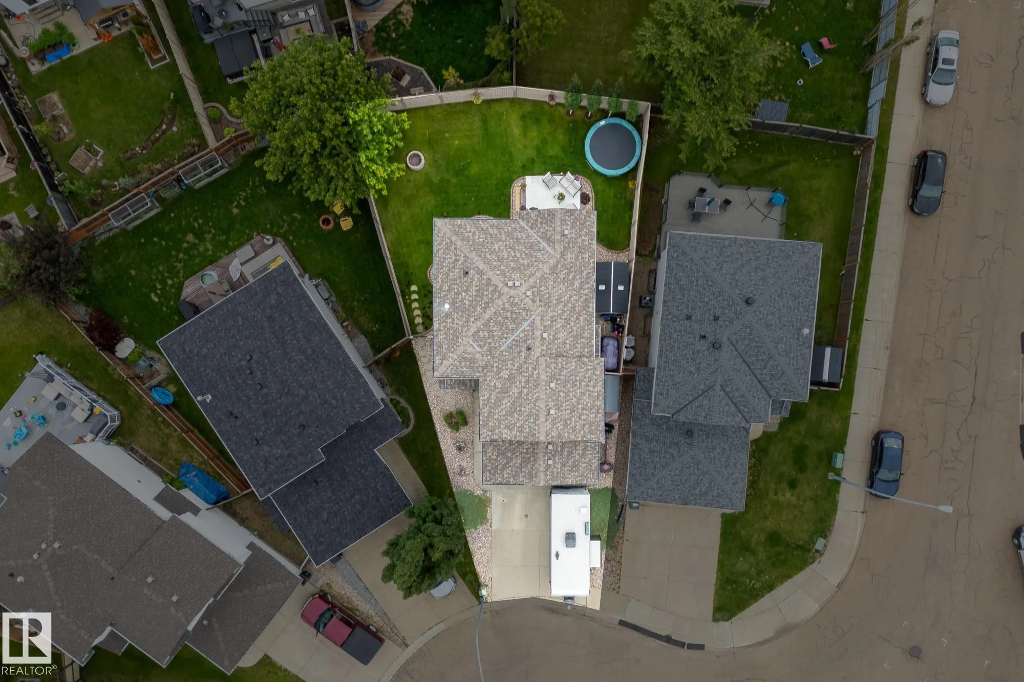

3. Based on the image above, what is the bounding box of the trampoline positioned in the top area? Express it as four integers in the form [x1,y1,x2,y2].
[584,117,642,176]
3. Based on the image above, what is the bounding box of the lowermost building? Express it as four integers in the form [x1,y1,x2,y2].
[0,432,304,674]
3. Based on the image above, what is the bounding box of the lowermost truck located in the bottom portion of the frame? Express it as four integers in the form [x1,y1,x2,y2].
[305,596,380,667]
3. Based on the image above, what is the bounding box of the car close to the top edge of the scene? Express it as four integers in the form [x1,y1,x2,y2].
[917,27,961,108]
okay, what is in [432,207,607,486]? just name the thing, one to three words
house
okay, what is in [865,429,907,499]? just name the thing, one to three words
car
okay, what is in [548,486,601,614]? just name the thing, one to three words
trailer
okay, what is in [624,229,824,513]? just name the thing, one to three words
house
